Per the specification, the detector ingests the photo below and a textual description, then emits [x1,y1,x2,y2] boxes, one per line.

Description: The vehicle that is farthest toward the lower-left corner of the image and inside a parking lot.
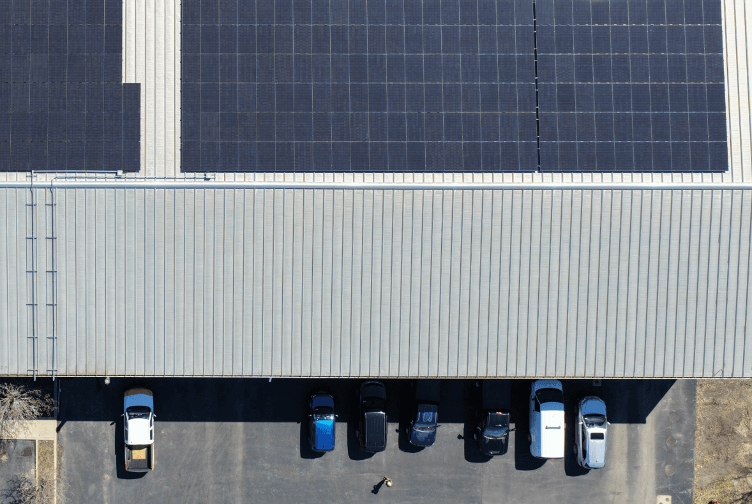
[120,386,156,472]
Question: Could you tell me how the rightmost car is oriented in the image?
up and down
